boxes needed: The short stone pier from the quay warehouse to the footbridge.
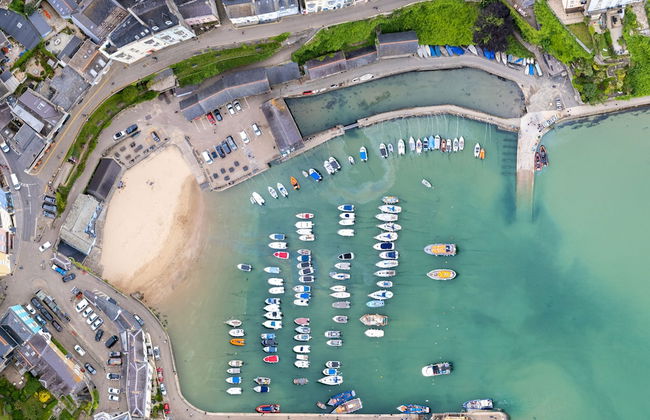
[304,124,343,154]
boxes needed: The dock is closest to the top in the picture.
[358,103,519,134]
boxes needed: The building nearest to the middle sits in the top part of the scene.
[262,98,305,155]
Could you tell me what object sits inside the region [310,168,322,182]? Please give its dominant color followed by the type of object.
blue boat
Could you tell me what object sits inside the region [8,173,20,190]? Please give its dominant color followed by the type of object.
white vehicle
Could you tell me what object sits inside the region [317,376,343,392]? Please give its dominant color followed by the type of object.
white boat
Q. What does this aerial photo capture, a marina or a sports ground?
marina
